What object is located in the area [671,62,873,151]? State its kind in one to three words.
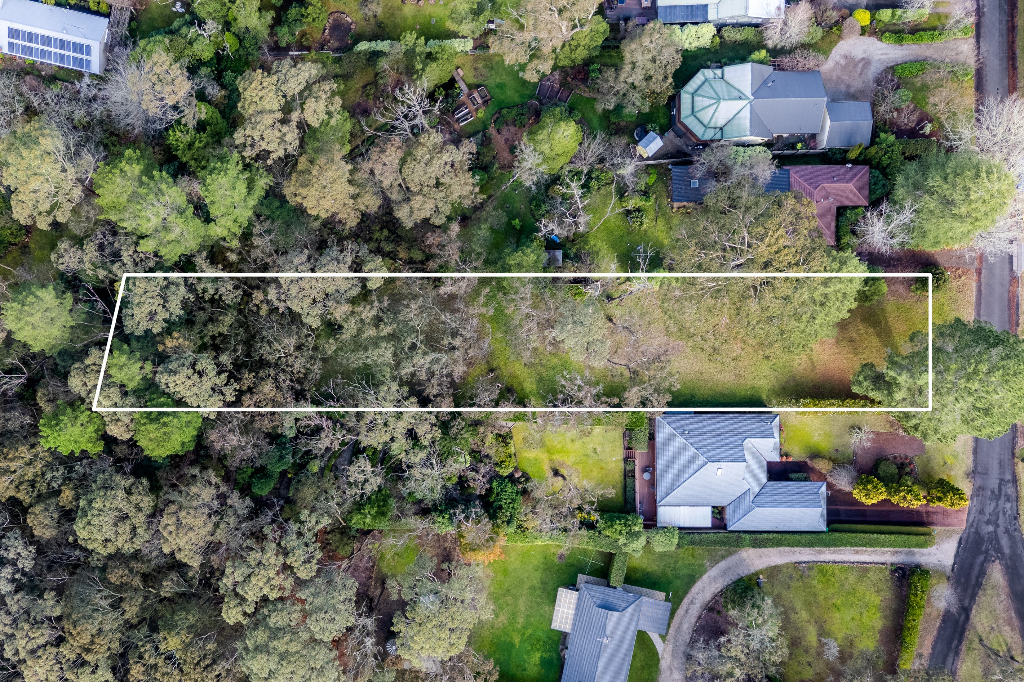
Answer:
house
